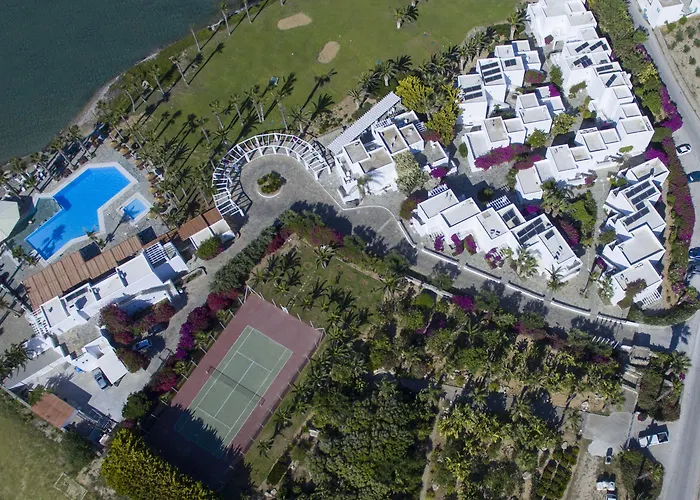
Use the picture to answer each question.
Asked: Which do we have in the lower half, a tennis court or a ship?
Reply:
tennis court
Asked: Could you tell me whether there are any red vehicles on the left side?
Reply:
No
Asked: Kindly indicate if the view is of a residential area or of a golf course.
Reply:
residential area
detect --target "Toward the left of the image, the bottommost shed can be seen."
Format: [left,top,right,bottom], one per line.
[33,391,79,432]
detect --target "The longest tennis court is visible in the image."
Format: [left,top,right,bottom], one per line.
[139,290,324,496]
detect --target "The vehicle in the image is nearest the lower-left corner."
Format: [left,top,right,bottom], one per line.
[90,369,107,388]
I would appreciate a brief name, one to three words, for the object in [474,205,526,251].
house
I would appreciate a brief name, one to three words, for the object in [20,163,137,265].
swimming pool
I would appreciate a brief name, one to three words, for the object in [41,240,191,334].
building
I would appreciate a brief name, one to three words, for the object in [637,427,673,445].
vehicle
